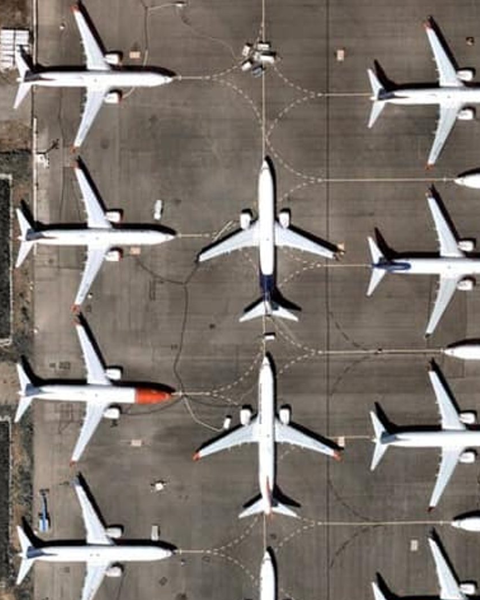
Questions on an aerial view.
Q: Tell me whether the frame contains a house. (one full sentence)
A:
No, there is no house in the image.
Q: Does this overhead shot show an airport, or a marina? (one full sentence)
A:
What you see here is an airport.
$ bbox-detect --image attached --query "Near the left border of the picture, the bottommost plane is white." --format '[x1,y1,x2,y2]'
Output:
[14,481,174,600]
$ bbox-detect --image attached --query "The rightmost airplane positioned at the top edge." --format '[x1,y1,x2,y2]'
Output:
[367,23,480,171]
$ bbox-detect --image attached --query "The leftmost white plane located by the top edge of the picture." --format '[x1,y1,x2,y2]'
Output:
[14,6,174,153]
